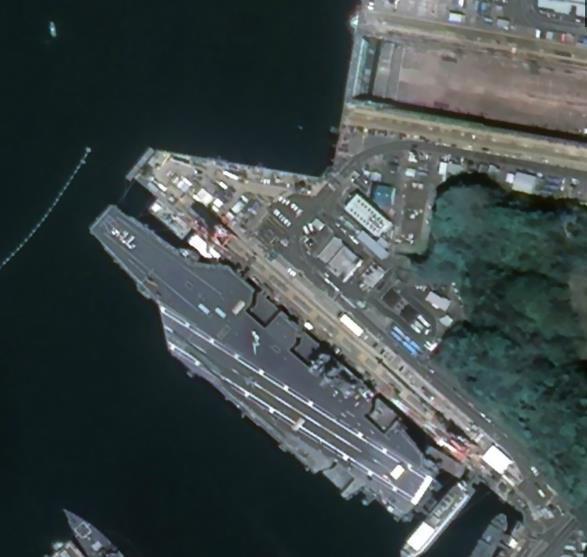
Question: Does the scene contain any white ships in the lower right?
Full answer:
Yes, there is a white ship in the lower right.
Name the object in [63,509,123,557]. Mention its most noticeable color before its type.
gray ship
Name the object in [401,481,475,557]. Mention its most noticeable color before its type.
white ship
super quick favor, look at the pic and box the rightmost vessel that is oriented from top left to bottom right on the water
[427,446,467,479]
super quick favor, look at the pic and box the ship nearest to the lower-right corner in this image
[470,513,507,557]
